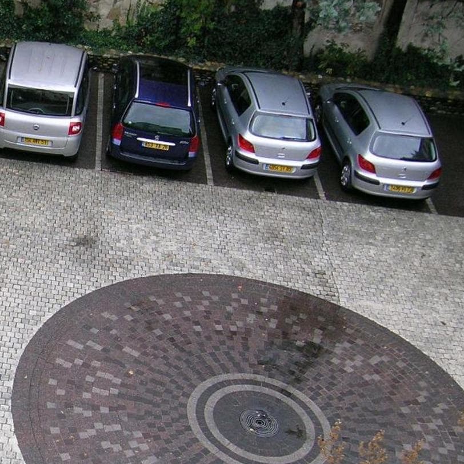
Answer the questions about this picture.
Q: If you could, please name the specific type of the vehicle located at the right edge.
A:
car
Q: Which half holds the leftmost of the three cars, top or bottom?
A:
top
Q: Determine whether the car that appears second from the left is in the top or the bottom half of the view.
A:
top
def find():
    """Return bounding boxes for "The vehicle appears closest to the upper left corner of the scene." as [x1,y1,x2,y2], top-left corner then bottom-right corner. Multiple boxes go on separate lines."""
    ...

[110,54,208,171]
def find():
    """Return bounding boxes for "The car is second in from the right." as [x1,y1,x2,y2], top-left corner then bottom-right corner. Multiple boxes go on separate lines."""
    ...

[214,65,323,178]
